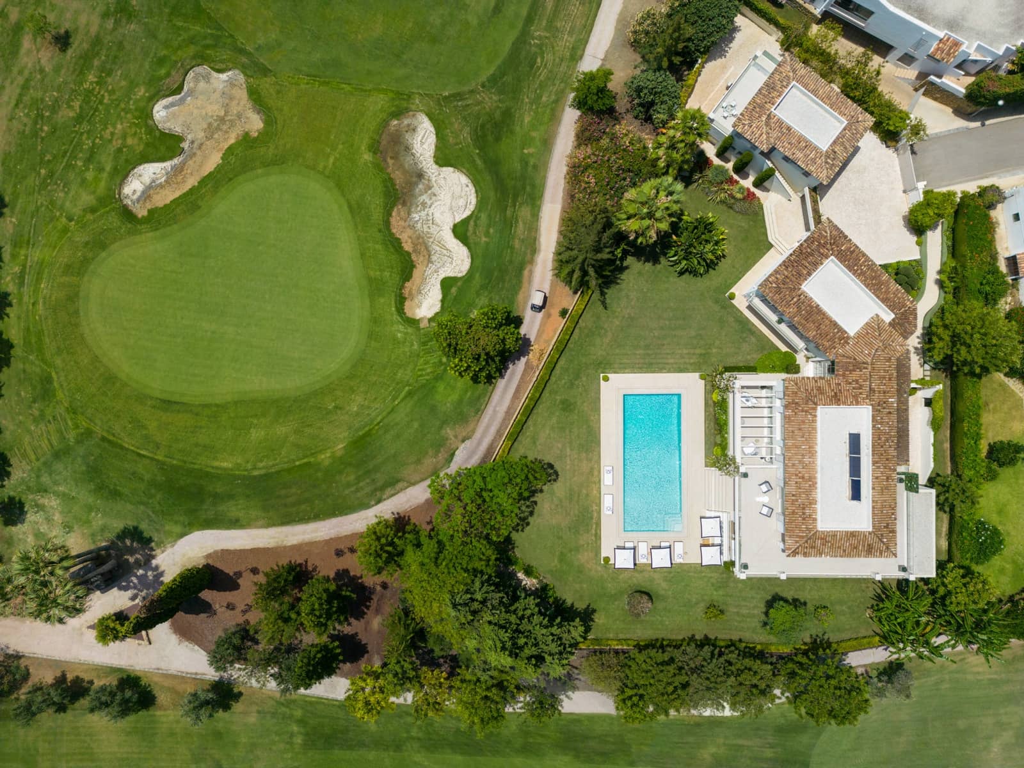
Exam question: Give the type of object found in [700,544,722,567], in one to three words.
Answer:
umbrella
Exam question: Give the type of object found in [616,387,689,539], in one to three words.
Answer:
swimming pool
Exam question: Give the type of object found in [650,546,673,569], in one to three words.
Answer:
umbrella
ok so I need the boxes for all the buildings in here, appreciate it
[698,49,876,192]
[729,216,941,581]
[1002,191,1024,301]
[799,0,1024,87]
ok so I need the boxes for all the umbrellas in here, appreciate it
[650,546,673,569]
[613,547,635,569]
[700,544,722,567]
[700,516,722,539]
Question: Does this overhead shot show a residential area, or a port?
residential area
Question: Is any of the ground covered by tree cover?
Yes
